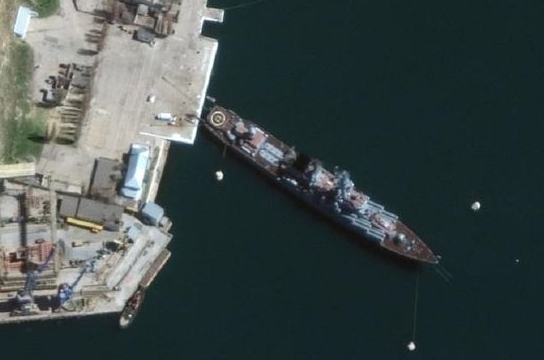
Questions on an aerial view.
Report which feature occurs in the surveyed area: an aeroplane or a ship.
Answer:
ship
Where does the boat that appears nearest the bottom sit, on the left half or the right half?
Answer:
left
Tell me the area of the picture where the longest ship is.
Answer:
center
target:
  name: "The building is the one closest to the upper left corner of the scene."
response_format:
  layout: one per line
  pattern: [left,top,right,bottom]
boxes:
[13,5,33,39]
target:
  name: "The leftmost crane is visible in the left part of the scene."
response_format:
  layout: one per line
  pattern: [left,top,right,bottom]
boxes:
[18,254,55,317]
